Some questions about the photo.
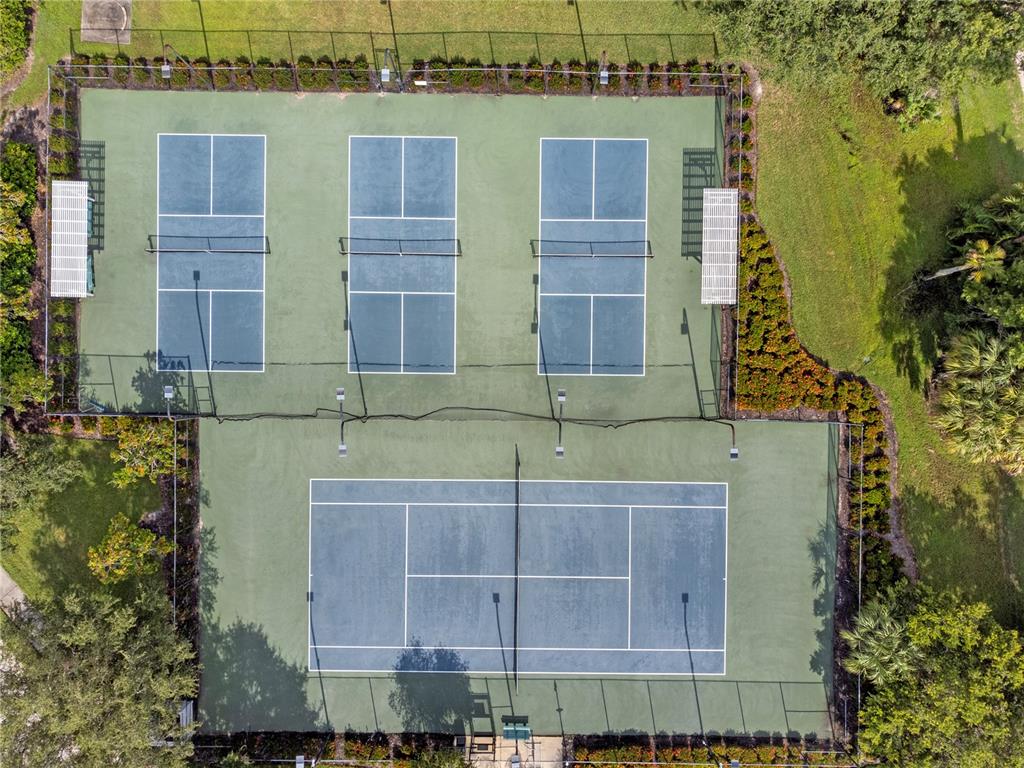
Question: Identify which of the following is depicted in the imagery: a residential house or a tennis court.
tennis court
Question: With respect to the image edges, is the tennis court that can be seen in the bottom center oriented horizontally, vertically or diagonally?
horizontally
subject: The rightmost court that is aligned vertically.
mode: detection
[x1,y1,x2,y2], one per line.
[538,138,648,377]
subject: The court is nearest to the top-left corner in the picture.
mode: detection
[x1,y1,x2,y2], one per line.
[156,133,266,373]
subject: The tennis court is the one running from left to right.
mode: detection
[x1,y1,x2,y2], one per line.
[307,479,728,676]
